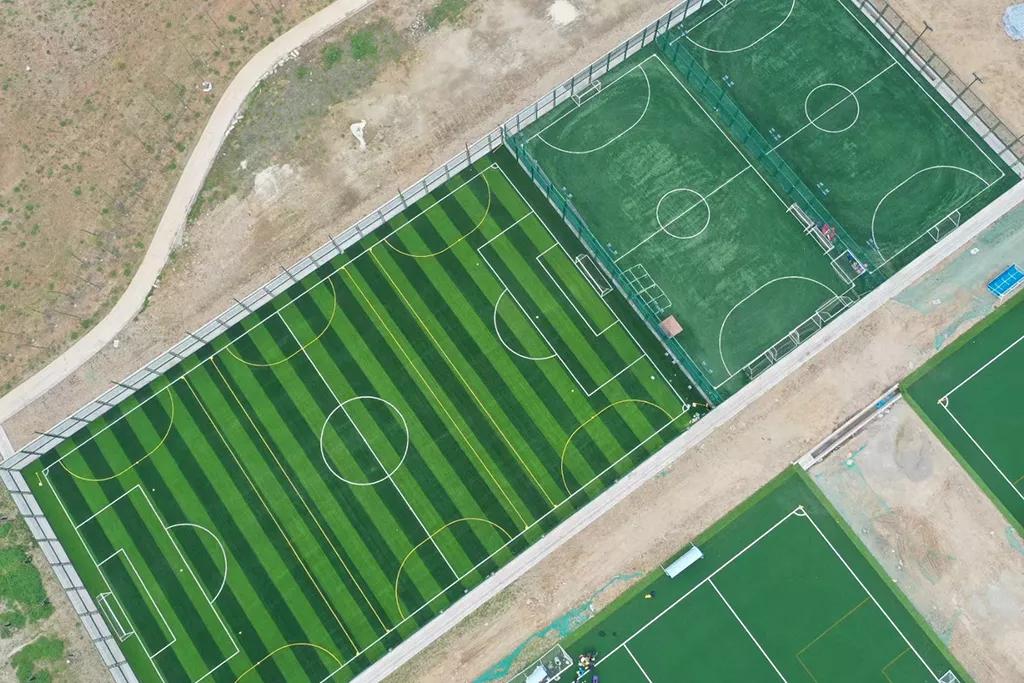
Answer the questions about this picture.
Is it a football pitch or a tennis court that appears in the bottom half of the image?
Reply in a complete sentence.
The feature located in the bottom half of the image is a football pitch.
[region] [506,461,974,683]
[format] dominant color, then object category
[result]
green soccer field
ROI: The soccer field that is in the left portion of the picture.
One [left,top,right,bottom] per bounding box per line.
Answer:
[18,142,713,683]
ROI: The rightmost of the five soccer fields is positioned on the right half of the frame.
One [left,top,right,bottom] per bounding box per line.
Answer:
[895,286,1024,537]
